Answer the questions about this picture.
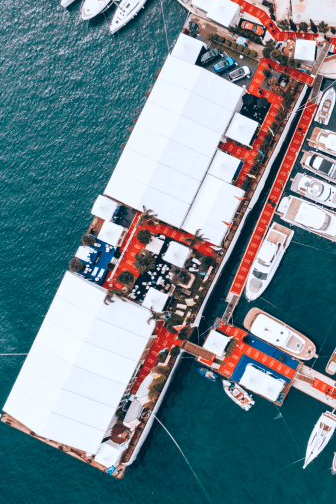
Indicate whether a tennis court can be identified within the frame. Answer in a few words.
No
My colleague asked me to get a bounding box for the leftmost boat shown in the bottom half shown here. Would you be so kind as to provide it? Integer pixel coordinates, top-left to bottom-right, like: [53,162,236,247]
[197,368,220,382]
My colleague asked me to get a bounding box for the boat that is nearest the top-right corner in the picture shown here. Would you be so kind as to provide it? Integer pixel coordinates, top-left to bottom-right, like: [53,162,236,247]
[314,88,336,127]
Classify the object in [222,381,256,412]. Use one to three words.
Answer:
boat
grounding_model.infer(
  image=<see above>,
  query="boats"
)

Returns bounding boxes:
[222,381,256,412]
[302,412,336,469]
[314,88,336,127]
[287,174,336,209]
[81,0,114,21]
[246,225,293,302]
[275,196,336,243]
[197,368,220,382]
[298,153,336,186]
[303,129,336,158]
[102,0,146,35]
[245,309,320,361]
[325,349,336,375]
